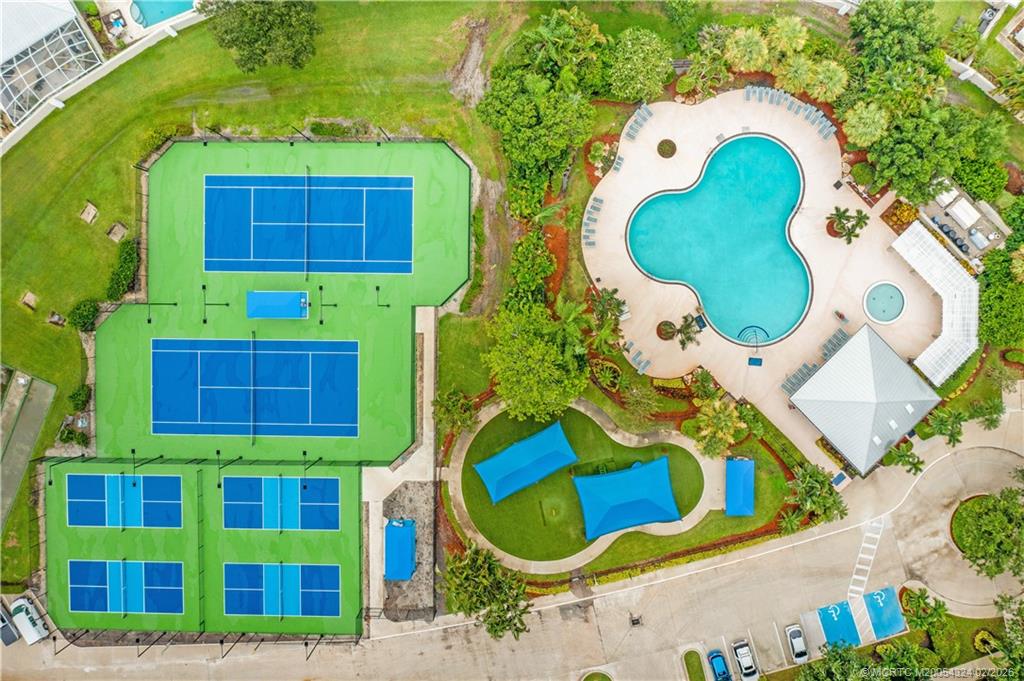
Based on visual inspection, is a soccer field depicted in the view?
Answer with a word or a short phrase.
No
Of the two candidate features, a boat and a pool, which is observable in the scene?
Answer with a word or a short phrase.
pool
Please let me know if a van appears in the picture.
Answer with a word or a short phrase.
Yes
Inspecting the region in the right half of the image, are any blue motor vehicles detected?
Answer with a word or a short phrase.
Yes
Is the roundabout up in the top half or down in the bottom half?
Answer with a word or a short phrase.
bottom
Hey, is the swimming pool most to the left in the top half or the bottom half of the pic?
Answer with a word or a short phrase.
top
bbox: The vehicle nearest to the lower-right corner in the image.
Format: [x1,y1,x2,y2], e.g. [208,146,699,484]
[784,624,809,664]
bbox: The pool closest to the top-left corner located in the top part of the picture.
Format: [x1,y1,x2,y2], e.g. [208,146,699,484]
[126,0,199,30]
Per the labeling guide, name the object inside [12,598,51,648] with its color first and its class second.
white van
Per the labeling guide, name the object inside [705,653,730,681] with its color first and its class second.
blue car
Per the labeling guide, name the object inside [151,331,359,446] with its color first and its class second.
blue tennis court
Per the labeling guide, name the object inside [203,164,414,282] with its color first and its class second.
blue tennis court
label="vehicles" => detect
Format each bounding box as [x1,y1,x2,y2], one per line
[729,643,756,681]
[12,598,51,648]
[784,624,809,664]
[0,599,21,646]
[705,653,730,681]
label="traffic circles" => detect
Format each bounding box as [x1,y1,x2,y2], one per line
[949,487,1024,576]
